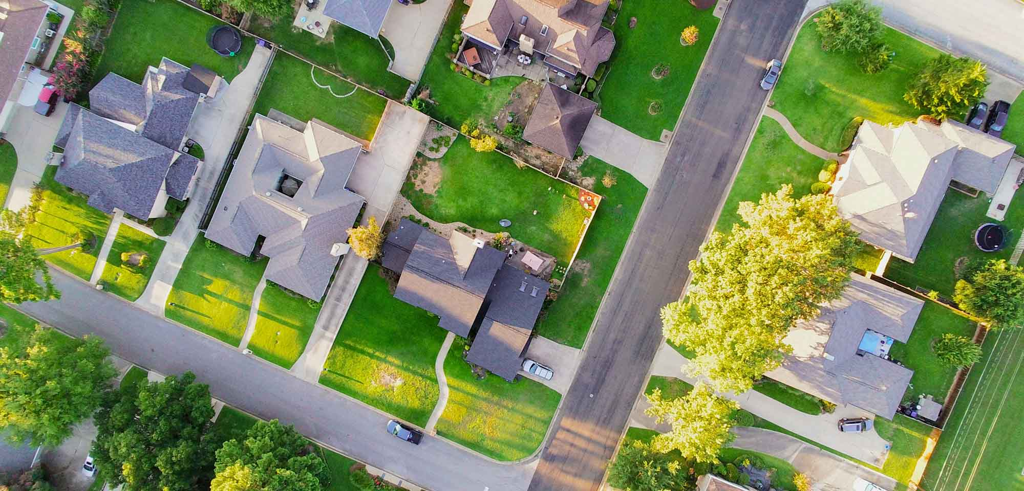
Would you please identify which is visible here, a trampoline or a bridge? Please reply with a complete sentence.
There is a trampoline in the scene.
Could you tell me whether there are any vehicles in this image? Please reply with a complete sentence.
Yes, this view includes a vehicle.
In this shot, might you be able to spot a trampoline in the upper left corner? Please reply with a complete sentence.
Yes, a trampoline appears in the upper left corner.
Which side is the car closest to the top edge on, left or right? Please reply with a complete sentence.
The car closest to the top edge sits on the right side.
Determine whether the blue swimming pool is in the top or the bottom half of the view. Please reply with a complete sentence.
The blue swimming pool is in the bottom half of the image.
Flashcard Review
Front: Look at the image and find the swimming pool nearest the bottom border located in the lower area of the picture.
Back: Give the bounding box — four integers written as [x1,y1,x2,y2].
[859,330,894,359]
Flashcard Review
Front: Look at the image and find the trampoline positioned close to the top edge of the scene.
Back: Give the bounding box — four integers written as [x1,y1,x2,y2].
[204,19,242,55]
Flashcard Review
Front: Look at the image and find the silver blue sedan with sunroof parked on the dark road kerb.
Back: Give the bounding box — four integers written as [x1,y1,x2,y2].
[760,56,782,92]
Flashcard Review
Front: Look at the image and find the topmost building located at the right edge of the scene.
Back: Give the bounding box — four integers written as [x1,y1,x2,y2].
[829,119,1016,264]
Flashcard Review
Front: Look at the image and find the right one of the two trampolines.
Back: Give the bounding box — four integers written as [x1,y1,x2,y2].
[974,223,1015,254]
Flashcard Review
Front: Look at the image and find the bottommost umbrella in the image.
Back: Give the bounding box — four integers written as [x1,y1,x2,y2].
[521,251,544,271]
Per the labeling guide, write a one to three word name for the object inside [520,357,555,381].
car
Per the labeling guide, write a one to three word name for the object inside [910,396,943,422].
shed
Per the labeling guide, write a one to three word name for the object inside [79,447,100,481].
car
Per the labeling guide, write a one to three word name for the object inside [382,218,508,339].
house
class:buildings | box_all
[829,119,1016,264]
[52,56,207,222]
[382,218,508,339]
[205,113,366,302]
[697,472,747,491]
[764,263,925,421]
[461,0,621,78]
[323,0,397,40]
[910,396,943,422]
[521,82,599,161]
[466,263,550,383]
[0,0,59,143]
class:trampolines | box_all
[974,223,1015,254]
[204,19,242,55]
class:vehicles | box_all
[854,475,891,491]
[980,96,1011,136]
[962,104,987,129]
[33,83,55,117]
[520,357,555,381]
[79,447,100,481]
[838,417,874,434]
[384,418,424,449]
[760,56,782,92]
